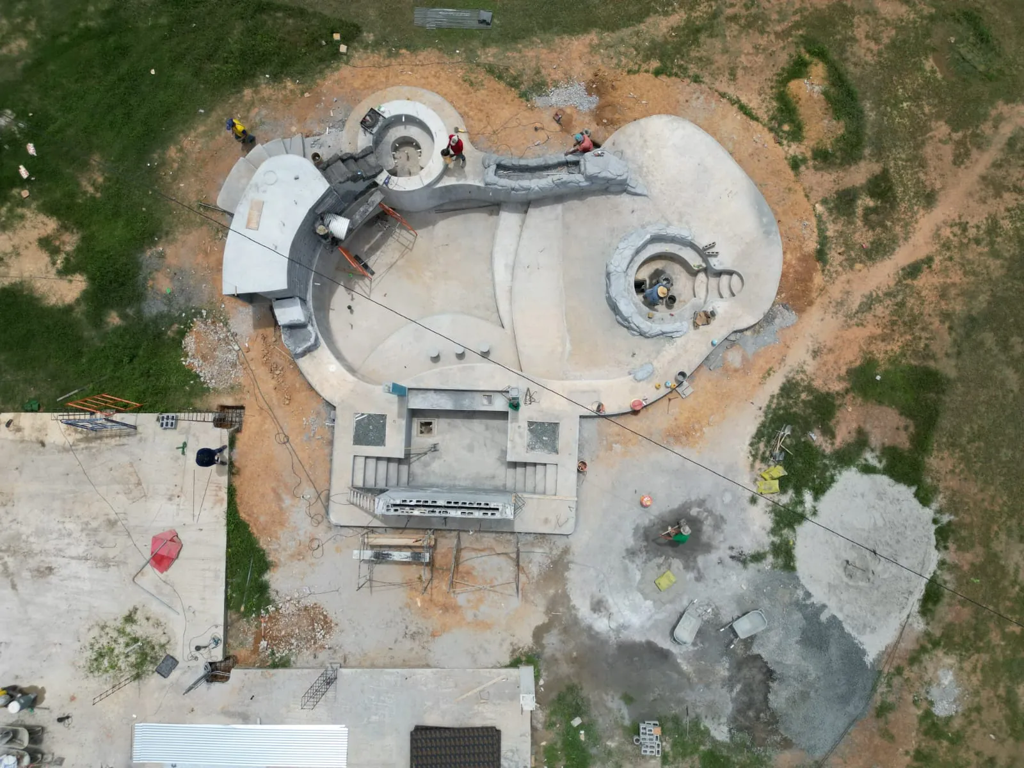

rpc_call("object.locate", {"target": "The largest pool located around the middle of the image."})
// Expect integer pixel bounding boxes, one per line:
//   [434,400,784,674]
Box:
[269,87,782,535]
